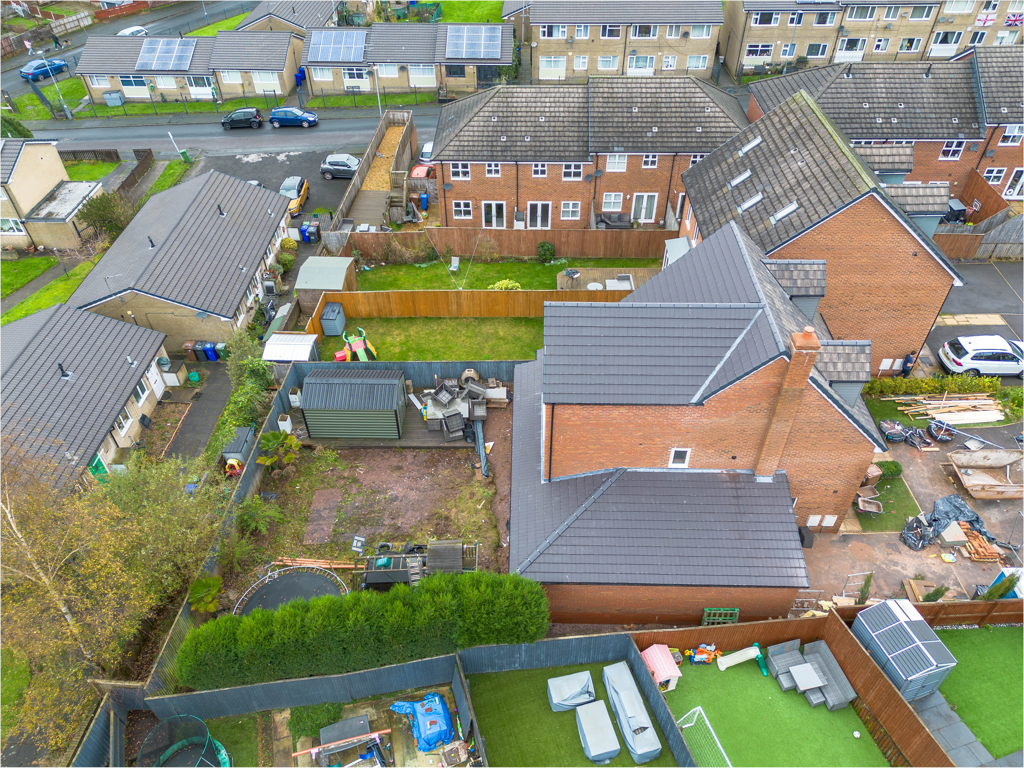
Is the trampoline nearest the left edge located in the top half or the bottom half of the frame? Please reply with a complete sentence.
The trampoline nearest the left edge is in the bottom half of the image.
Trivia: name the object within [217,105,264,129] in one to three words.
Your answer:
car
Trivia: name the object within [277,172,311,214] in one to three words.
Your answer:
car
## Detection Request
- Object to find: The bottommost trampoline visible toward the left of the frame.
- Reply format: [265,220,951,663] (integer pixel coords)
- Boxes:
[131,710,242,768]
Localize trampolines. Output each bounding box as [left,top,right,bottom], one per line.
[230,557,345,635]
[131,710,242,768]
